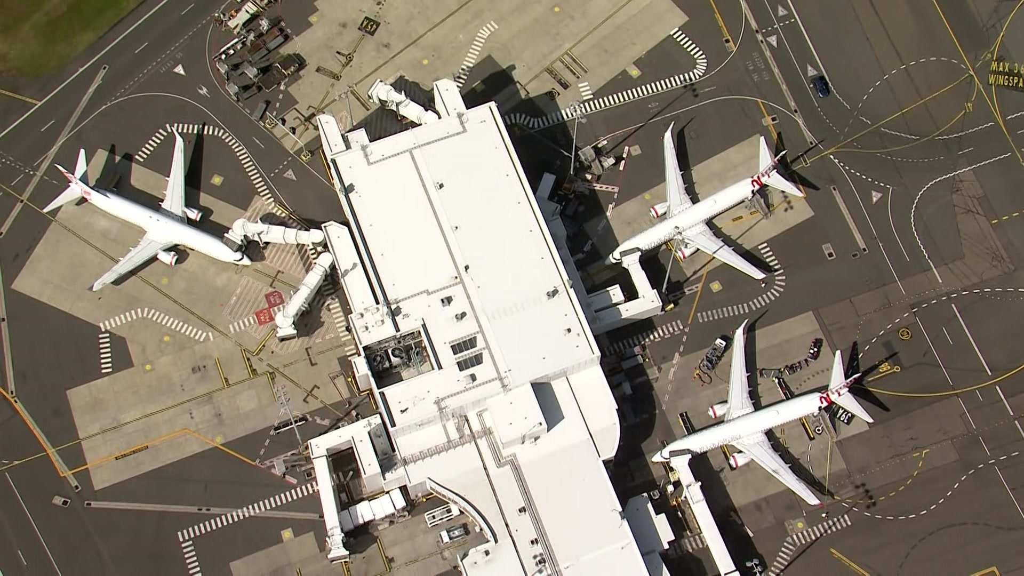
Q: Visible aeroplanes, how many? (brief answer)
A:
3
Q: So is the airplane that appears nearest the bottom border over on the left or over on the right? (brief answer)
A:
right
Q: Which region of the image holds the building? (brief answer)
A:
center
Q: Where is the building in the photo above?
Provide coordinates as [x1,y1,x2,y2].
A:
[308,79,675,576]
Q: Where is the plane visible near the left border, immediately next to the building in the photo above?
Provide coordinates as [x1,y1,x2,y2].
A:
[44,126,253,292]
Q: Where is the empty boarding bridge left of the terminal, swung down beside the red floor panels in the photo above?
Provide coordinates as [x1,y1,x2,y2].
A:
[275,254,334,345]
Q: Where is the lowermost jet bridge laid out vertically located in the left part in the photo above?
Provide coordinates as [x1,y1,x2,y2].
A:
[311,458,351,562]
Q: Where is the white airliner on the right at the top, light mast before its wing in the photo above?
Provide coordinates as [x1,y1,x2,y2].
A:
[604,121,805,279]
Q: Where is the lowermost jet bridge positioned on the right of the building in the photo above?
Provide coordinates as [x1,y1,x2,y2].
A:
[669,449,737,576]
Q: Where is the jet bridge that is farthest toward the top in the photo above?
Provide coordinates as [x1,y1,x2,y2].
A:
[368,79,440,125]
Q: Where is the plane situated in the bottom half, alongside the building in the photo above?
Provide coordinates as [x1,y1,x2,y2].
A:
[652,319,874,505]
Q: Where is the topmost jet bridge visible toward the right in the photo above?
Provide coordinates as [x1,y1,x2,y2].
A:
[620,249,651,300]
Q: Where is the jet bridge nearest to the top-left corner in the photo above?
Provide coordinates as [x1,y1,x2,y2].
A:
[223,217,327,258]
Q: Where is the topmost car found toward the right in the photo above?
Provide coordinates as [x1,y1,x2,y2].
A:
[814,76,828,96]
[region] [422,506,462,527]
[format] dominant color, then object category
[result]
white truck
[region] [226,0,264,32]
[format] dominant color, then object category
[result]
white truck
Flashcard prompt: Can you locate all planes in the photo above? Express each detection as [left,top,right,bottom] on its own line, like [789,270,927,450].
[44,126,253,292]
[652,319,874,505]
[604,121,805,279]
